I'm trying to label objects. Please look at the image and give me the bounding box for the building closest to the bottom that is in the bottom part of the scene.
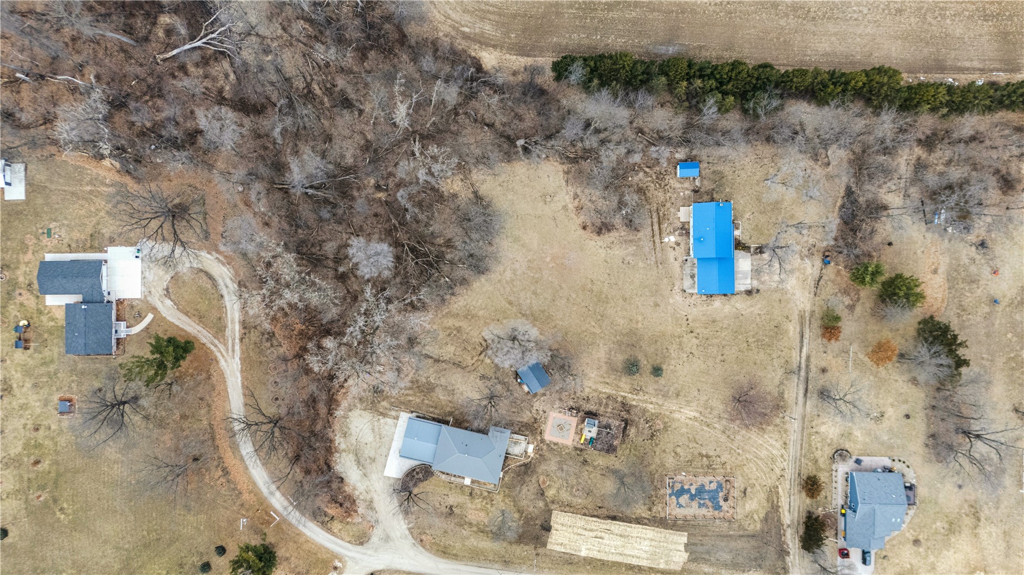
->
[842,471,908,550]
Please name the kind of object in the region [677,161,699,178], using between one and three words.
shed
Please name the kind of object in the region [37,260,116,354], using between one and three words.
house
